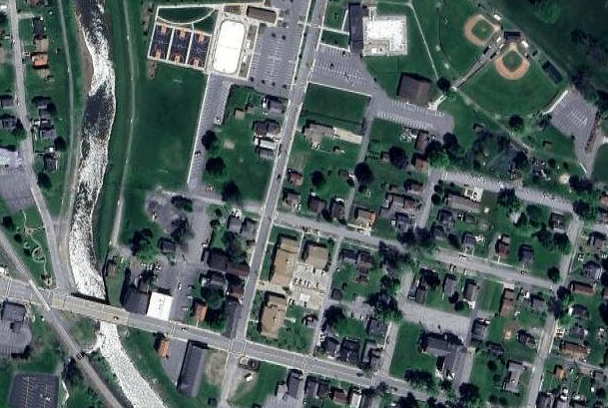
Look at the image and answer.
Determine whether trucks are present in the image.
No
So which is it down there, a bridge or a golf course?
bridge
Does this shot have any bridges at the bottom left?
Yes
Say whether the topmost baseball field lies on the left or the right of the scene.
right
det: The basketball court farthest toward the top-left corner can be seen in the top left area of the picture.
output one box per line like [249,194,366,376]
[149,24,173,59]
